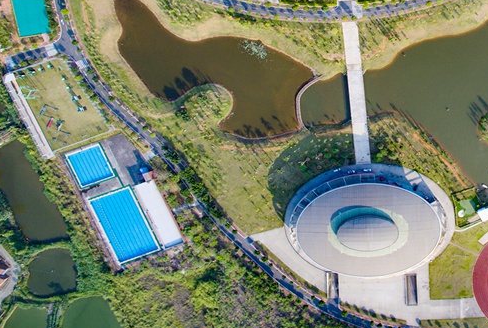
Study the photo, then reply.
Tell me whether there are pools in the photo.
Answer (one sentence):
Yes, this view includes a pool.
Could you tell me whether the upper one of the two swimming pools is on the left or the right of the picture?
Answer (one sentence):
It is on the left.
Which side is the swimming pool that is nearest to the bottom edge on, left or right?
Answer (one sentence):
The swimming pool that is nearest to the bottom edge sits on the left side.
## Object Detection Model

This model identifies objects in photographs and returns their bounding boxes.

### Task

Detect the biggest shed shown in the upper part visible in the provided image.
[4,76,57,159]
